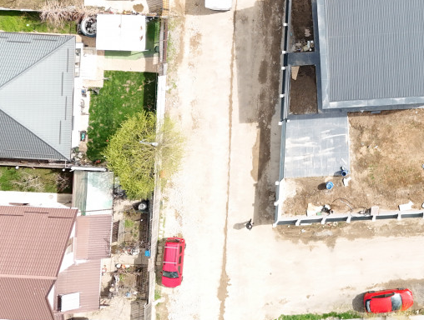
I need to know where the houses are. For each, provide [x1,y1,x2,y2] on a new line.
[0,30,86,162]
[317,0,424,109]
[0,203,80,320]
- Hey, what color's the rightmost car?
red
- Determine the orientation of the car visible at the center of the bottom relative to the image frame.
up and down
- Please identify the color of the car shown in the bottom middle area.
red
